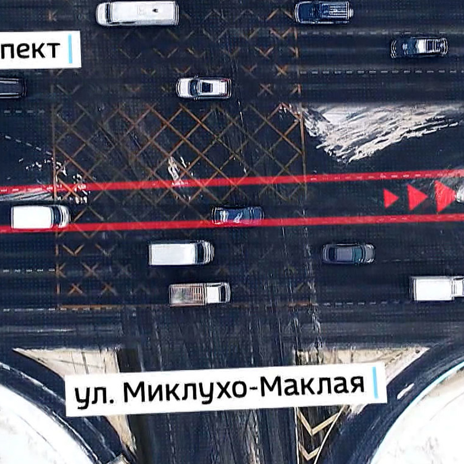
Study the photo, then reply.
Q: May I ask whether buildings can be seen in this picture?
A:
No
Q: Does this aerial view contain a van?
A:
Yes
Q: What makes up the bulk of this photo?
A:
paved ground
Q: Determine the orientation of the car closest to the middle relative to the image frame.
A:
horizontally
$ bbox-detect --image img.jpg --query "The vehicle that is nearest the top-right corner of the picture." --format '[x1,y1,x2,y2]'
[389,34,447,61]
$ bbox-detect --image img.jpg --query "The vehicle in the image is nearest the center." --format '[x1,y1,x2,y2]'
[211,204,264,230]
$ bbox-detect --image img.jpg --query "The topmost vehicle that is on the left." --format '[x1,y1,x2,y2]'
[96,0,179,28]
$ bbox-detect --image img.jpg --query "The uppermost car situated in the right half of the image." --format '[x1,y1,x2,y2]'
[294,0,354,25]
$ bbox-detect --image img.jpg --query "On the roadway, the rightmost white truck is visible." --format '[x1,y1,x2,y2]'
[408,273,464,303]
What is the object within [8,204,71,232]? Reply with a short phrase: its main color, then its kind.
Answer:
white vehicle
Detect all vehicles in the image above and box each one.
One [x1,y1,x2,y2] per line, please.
[294,0,354,25]
[177,75,231,100]
[322,241,376,266]
[8,204,71,232]
[211,204,264,230]
[147,239,214,269]
[96,0,179,28]
[389,34,447,61]
[408,273,464,303]
[169,279,232,306]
